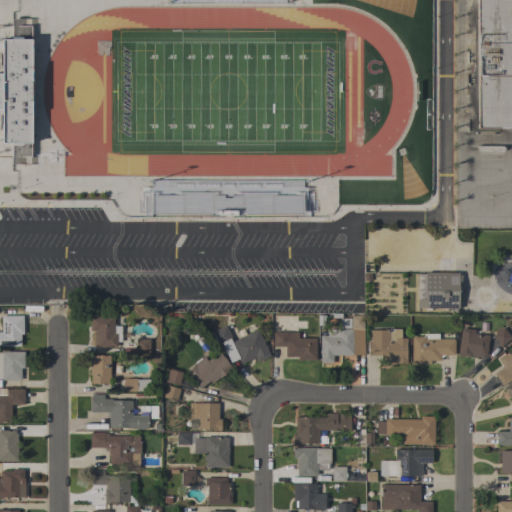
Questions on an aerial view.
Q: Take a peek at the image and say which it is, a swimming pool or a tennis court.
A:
swimming pool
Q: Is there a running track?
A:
Yes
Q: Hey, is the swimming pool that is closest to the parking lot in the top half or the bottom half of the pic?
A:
bottom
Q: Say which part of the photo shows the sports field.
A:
top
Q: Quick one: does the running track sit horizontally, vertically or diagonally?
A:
horizontally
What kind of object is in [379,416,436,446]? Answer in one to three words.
house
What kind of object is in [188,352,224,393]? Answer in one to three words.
house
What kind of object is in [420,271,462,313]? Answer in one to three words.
building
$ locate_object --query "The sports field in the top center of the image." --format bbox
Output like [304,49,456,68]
[112,29,346,154]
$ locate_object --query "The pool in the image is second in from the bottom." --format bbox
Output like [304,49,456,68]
[142,453,162,468]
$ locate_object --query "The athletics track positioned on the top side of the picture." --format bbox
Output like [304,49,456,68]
[42,6,418,178]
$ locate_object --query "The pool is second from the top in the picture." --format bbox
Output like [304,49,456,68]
[126,362,153,378]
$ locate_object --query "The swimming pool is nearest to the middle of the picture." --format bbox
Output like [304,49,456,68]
[122,319,158,347]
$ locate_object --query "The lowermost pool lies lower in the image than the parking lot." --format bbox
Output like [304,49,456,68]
[182,485,207,505]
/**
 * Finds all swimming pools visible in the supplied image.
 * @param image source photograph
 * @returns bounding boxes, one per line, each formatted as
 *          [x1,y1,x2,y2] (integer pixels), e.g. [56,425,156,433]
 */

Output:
[182,485,207,505]
[142,453,162,468]
[122,319,158,347]
[126,362,153,378]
